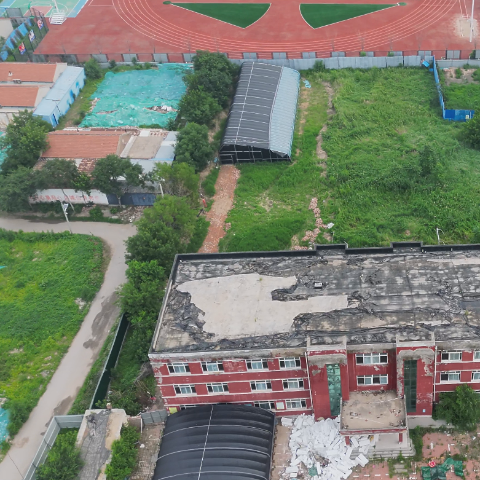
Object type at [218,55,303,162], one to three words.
shed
